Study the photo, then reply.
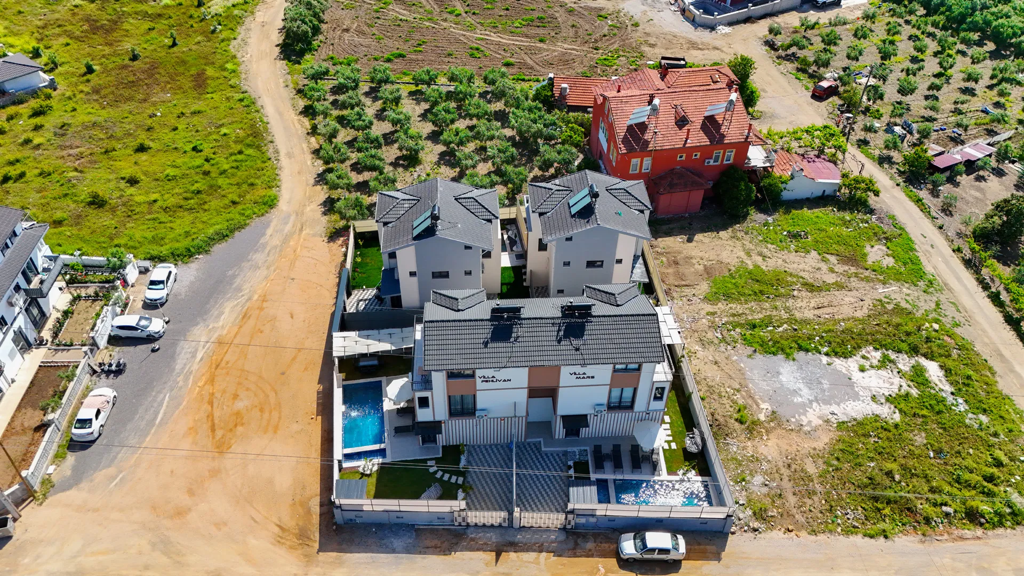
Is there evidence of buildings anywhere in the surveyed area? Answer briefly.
Yes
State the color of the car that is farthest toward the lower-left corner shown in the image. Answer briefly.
white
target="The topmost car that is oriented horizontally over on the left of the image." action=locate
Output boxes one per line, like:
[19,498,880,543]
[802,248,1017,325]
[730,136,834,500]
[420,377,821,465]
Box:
[106,308,168,337]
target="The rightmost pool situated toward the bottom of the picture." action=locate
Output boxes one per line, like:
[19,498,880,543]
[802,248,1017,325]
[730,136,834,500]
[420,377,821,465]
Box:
[606,474,719,511]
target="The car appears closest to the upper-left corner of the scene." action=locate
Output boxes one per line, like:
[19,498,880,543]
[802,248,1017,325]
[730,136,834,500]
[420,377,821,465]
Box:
[140,261,177,302]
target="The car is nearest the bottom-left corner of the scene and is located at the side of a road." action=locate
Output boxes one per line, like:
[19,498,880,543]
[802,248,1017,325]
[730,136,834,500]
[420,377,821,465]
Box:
[65,386,117,438]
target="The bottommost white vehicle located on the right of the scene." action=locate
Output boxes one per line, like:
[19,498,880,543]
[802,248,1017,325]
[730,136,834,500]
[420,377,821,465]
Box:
[617,528,687,562]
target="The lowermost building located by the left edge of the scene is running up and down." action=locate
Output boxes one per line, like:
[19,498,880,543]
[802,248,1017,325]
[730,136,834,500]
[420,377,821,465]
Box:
[0,203,79,394]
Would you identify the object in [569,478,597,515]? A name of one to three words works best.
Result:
shed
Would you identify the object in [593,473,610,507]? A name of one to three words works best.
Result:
swimming pool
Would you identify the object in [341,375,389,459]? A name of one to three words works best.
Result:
swimming pool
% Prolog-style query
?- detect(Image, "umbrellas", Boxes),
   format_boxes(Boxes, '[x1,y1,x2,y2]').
[382,380,415,414]
[629,421,667,454]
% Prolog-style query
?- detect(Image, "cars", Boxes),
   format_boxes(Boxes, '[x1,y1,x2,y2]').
[106,308,168,337]
[617,528,687,562]
[65,386,117,438]
[140,261,177,302]
[812,80,841,97]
